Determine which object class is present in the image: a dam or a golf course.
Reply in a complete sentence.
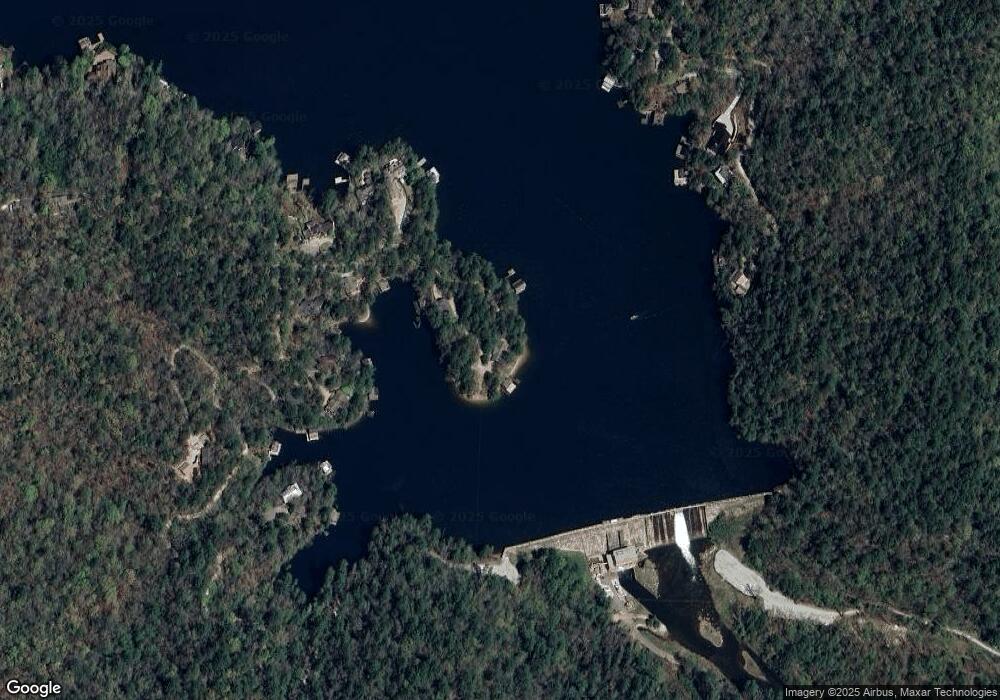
It is a dam that can be seen here.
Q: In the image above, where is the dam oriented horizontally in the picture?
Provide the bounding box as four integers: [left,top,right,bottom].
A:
[500,489,777,562]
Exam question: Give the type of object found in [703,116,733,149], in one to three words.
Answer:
house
